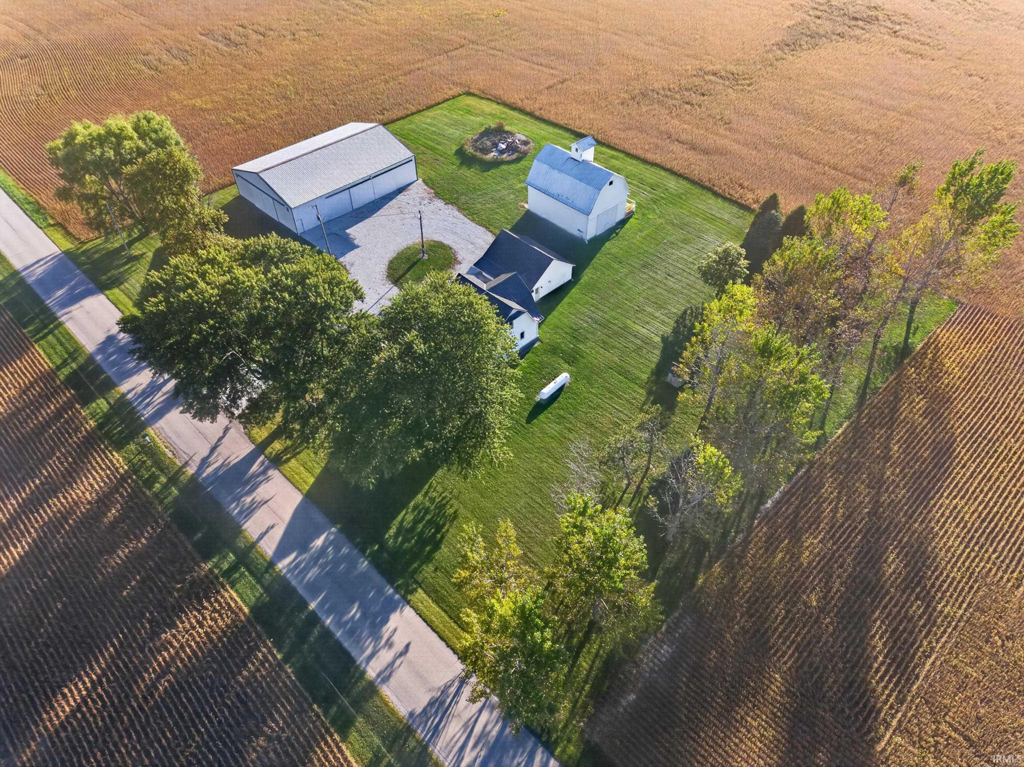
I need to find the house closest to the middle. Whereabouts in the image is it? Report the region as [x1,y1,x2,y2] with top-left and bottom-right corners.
[451,231,577,350]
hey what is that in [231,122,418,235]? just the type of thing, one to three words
shed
